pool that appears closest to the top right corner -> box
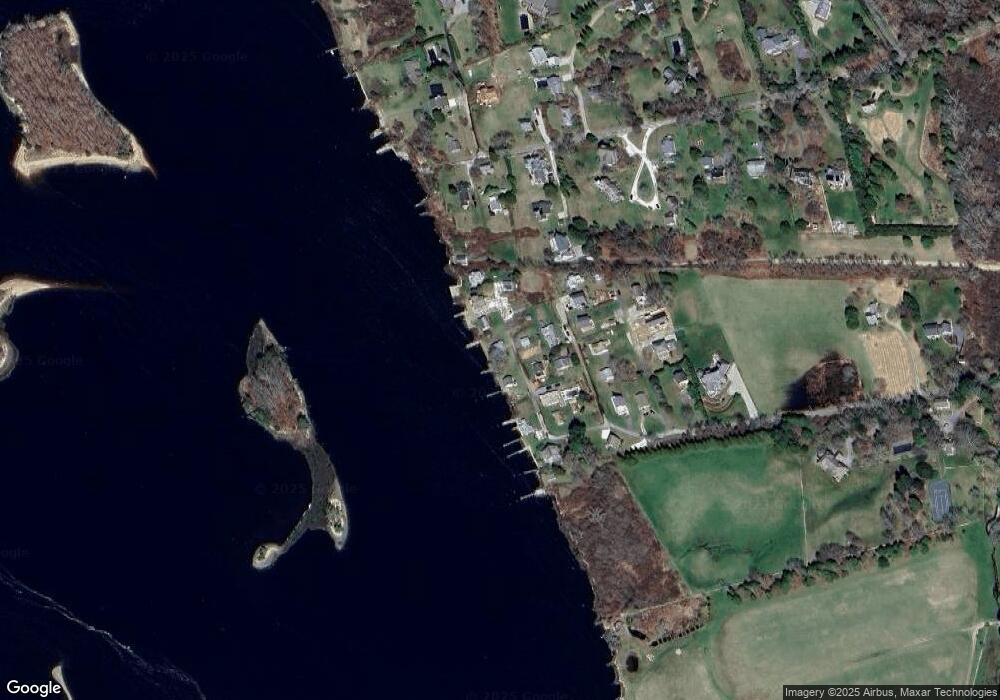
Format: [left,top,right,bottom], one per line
[669,35,687,58]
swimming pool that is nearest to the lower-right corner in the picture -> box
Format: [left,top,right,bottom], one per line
[892,439,913,455]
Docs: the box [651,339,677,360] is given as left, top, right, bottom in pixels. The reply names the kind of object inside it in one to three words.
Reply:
house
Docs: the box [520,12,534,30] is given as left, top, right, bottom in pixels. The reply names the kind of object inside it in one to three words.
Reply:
swimming pool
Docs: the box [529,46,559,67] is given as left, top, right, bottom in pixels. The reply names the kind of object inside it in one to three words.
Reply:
house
